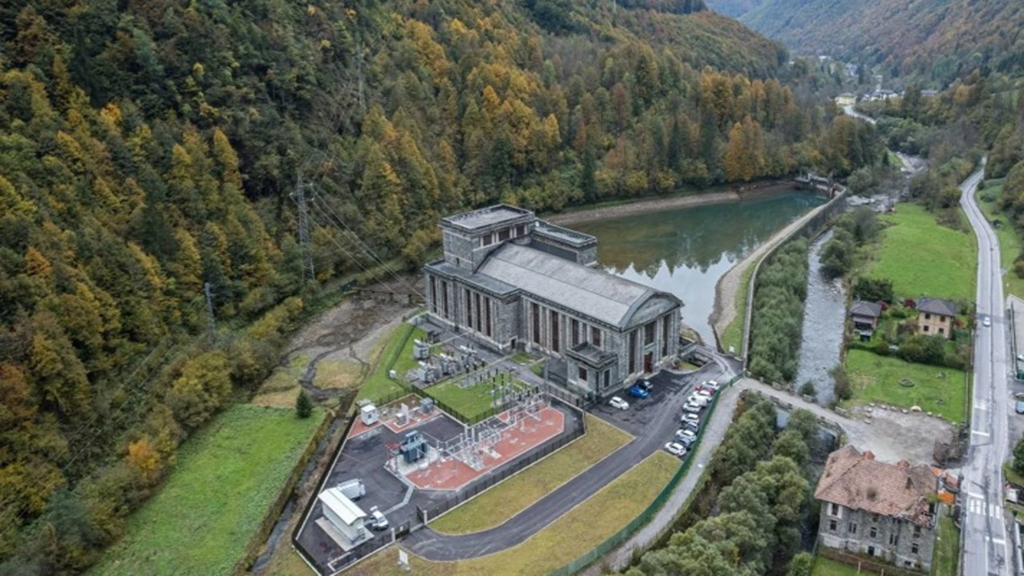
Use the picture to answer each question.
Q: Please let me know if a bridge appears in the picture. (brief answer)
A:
Yes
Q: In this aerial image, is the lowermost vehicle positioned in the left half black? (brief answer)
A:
No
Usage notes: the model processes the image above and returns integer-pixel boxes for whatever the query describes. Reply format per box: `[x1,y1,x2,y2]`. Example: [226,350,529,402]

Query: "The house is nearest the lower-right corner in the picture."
[816,441,951,575]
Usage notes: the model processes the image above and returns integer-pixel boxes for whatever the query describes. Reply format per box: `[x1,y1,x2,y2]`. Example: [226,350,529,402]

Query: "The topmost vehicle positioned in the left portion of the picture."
[335,474,372,497]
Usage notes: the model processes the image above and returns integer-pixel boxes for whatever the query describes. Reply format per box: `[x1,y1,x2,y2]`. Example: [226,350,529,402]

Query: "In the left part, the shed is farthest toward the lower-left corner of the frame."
[311,489,379,550]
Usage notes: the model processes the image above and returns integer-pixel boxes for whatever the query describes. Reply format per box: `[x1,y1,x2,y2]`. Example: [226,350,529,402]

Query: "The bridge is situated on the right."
[751,382,844,452]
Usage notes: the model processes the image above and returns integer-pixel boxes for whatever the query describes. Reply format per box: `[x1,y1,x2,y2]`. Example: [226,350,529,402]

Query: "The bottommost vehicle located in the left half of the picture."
[367,504,388,530]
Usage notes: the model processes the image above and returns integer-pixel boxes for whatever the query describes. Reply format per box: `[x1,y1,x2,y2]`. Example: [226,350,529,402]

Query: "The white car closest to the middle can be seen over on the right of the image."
[608,395,629,408]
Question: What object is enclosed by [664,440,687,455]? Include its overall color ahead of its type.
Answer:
white car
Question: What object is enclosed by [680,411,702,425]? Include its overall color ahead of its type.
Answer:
white car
